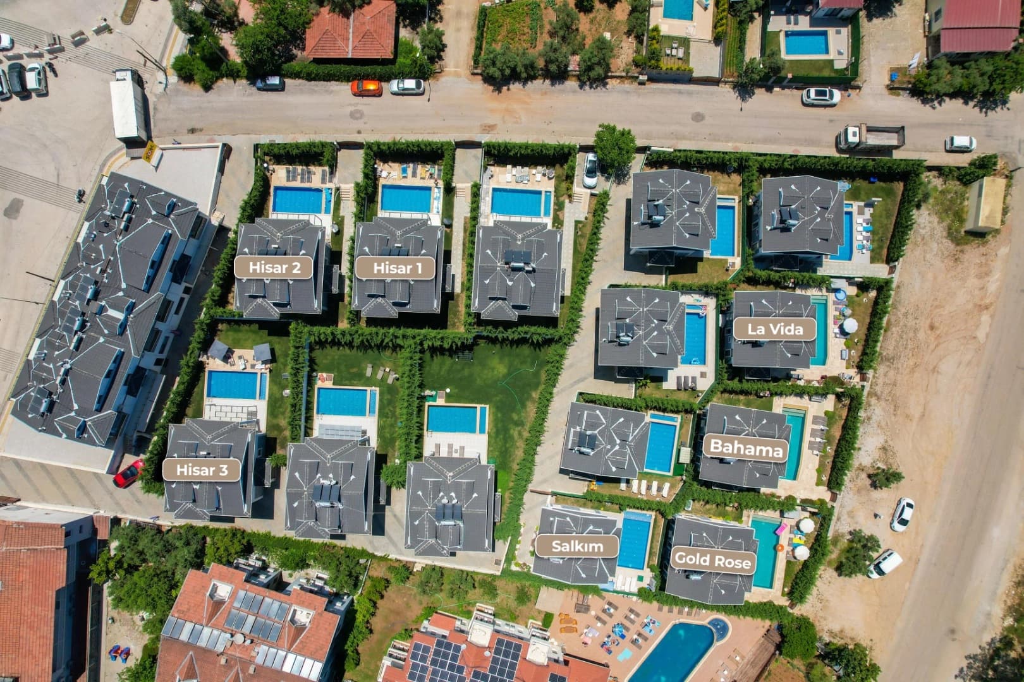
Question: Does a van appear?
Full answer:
Yes, there's a van down there.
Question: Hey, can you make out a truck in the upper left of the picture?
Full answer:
Yes, I can see a truck in the upper left of the picture.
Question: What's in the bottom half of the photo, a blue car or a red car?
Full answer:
There is a red car in the bottom half of the photo.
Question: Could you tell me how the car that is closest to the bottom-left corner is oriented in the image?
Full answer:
The car that is closest to the bottom-left corner runs diagonally in the image.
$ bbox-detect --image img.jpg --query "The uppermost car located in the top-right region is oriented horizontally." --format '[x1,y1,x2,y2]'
[803,84,843,104]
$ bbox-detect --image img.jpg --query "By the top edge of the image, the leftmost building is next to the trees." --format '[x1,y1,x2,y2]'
[305,0,395,65]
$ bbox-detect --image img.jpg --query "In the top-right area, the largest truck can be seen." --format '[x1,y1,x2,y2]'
[835,122,906,149]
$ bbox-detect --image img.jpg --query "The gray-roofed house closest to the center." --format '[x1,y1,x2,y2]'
[470,214,567,320]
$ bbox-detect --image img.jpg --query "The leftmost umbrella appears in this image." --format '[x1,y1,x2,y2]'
[206,338,240,363]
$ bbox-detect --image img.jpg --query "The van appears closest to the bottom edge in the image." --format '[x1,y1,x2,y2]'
[869,549,910,581]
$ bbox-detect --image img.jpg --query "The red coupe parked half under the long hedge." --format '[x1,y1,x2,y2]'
[108,459,145,491]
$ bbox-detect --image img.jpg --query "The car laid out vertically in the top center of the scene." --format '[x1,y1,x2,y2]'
[582,151,600,188]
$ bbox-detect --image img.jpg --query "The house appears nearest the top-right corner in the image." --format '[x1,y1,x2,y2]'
[919,0,1021,65]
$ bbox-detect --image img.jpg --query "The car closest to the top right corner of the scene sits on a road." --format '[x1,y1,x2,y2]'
[947,133,980,151]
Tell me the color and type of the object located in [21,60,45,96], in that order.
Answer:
white car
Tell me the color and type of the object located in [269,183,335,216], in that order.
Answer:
blue swimming pool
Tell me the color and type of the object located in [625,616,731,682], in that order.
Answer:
blue swimming pool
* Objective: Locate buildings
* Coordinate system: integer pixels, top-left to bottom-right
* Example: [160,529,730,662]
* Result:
[722,291,818,381]
[231,212,346,319]
[661,510,760,608]
[0,141,233,475]
[691,403,792,492]
[403,440,503,557]
[352,211,455,317]
[596,289,686,380]
[560,397,653,487]
[919,0,1021,65]
[809,0,863,20]
[625,168,717,270]
[964,177,1007,231]
[530,495,624,593]
[749,172,845,273]
[147,541,362,682]
[305,0,395,65]
[283,423,391,539]
[0,509,96,682]
[470,214,567,320]
[381,601,611,682]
